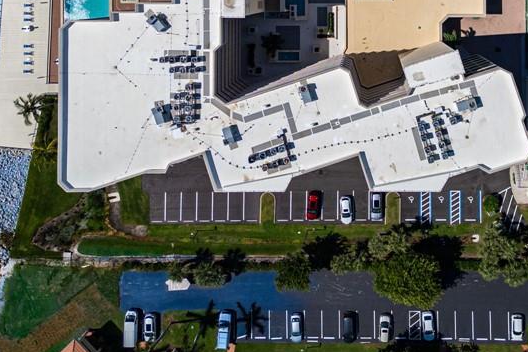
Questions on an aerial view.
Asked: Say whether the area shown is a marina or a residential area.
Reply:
residential area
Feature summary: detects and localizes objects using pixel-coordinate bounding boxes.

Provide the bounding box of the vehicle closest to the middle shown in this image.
[307,190,320,219]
